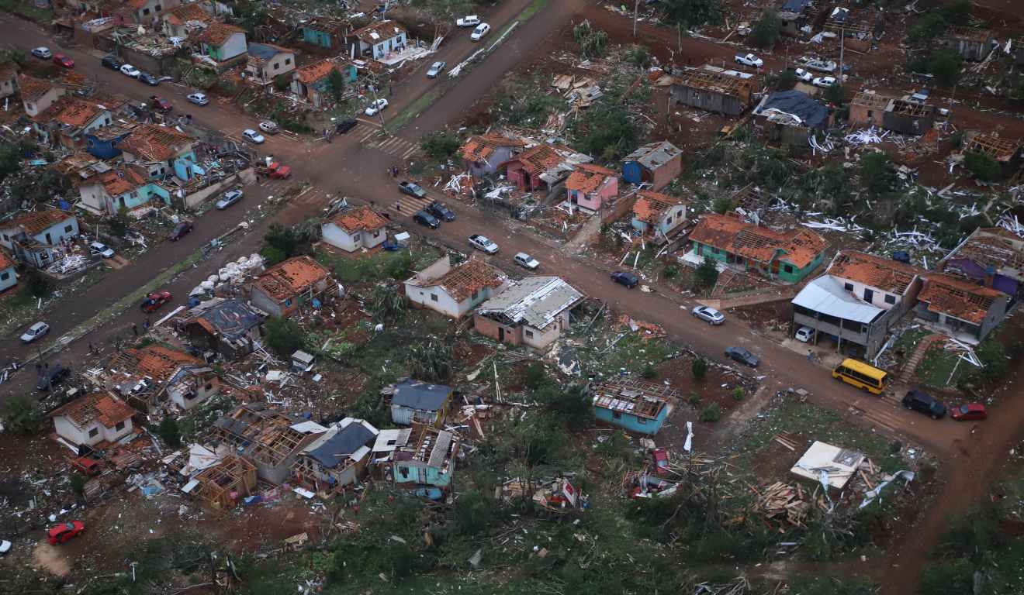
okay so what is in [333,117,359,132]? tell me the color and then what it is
black vehicle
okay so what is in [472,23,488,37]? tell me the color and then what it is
white car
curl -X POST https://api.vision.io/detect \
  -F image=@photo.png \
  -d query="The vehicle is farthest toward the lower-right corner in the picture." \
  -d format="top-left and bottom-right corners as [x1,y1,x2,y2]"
[951,403,986,419]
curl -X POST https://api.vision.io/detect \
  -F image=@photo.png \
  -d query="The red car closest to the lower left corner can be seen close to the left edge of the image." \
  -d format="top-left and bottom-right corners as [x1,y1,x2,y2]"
[46,523,84,544]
